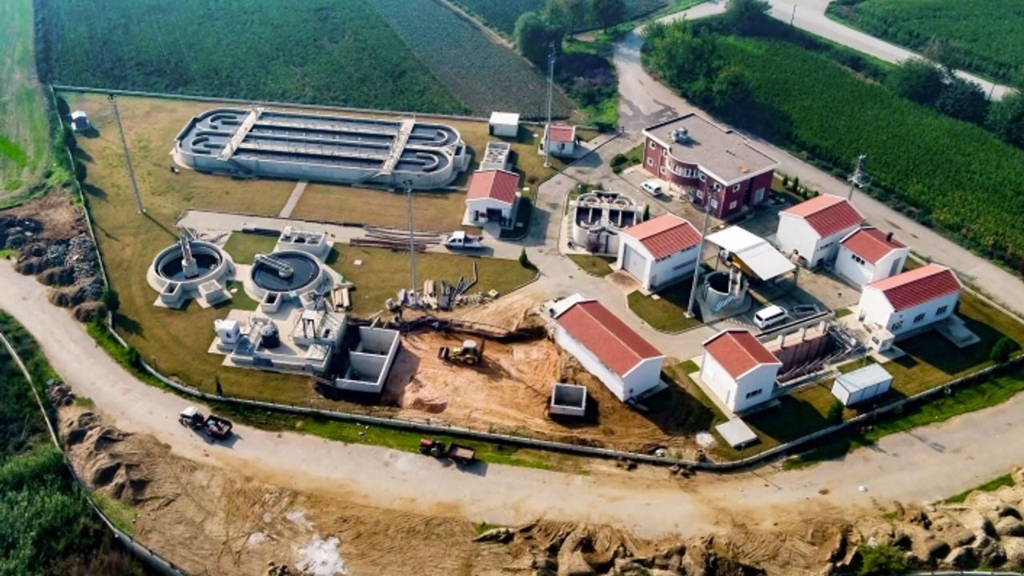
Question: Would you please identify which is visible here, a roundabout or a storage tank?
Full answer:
Of the two, only a storage tank appears.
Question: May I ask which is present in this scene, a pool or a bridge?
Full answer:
The one in the frame is a bridge.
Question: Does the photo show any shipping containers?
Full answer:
Yes, looking at the shot, I can spot a shipping container.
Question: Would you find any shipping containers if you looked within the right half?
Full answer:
Yes, a shipping container can be seen within the right half.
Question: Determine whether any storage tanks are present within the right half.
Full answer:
Yes, a storage tank is visible within the right half.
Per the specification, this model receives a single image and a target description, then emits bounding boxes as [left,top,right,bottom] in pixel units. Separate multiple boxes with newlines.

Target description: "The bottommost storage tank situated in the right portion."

[696,271,754,323]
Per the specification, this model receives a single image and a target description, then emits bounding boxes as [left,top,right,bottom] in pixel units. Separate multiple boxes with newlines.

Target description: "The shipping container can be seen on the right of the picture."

[832,365,893,406]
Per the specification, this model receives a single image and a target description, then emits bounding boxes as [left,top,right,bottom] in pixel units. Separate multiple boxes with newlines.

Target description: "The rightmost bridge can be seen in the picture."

[379,113,414,174]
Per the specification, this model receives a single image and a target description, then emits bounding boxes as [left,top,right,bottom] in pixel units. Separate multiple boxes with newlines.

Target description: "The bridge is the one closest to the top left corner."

[215,102,264,161]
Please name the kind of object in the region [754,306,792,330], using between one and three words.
vehicle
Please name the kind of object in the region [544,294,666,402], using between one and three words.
building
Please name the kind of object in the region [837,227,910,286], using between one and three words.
building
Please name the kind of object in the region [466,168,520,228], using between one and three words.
house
